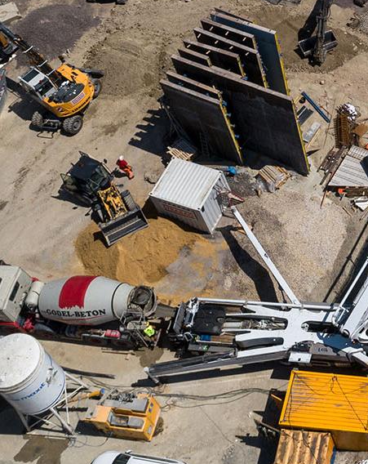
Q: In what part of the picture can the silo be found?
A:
bottom left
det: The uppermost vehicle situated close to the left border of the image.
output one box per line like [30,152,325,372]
[0,27,107,144]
